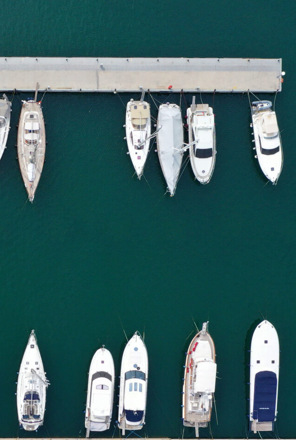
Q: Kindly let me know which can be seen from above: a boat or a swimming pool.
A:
boat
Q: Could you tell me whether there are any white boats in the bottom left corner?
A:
Yes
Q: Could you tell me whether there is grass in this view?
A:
No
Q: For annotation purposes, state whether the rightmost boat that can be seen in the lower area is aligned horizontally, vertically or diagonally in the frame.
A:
vertically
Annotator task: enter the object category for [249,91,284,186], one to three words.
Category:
boat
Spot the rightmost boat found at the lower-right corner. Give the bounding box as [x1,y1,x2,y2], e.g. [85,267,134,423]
[245,313,279,439]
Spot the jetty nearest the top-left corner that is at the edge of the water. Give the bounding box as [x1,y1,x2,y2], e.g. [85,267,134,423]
[0,58,280,92]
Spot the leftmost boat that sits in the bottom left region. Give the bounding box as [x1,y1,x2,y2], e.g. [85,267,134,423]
[15,327,52,432]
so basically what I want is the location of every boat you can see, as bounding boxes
[249,91,284,186]
[84,346,116,439]
[117,91,163,181]
[15,83,49,207]
[0,92,14,159]
[149,91,199,197]
[252,98,273,110]
[180,321,217,439]
[183,91,219,186]
[245,313,279,439]
[112,326,149,440]
[15,327,52,432]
